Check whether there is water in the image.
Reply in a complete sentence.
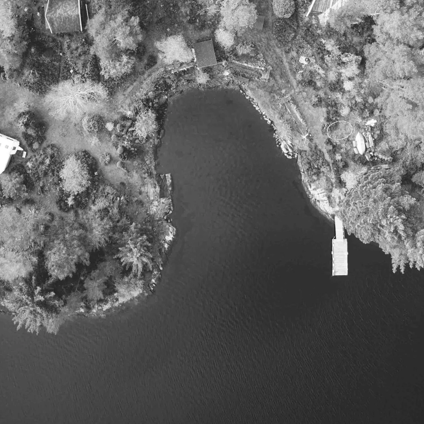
Yes, there's water in this view.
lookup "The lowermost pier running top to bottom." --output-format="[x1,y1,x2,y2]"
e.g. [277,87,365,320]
[331,239,349,277]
